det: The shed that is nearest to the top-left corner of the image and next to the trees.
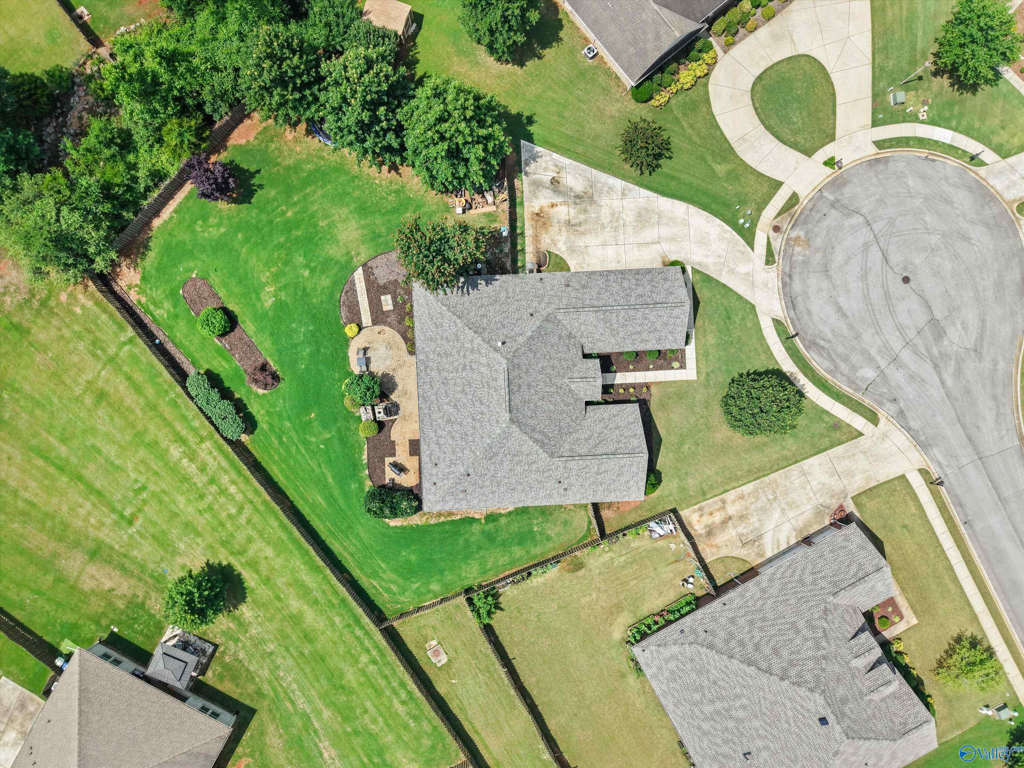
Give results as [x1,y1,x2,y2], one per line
[362,0,414,47]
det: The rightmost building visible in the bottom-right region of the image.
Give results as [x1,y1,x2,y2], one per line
[630,521,938,768]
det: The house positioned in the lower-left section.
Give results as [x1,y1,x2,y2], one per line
[13,637,240,768]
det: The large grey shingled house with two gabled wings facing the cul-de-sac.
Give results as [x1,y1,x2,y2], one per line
[412,266,690,513]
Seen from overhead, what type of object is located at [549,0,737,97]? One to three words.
house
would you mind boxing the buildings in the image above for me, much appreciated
[362,0,414,47]
[549,0,737,97]
[630,521,938,768]
[13,637,240,768]
[412,266,690,513]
